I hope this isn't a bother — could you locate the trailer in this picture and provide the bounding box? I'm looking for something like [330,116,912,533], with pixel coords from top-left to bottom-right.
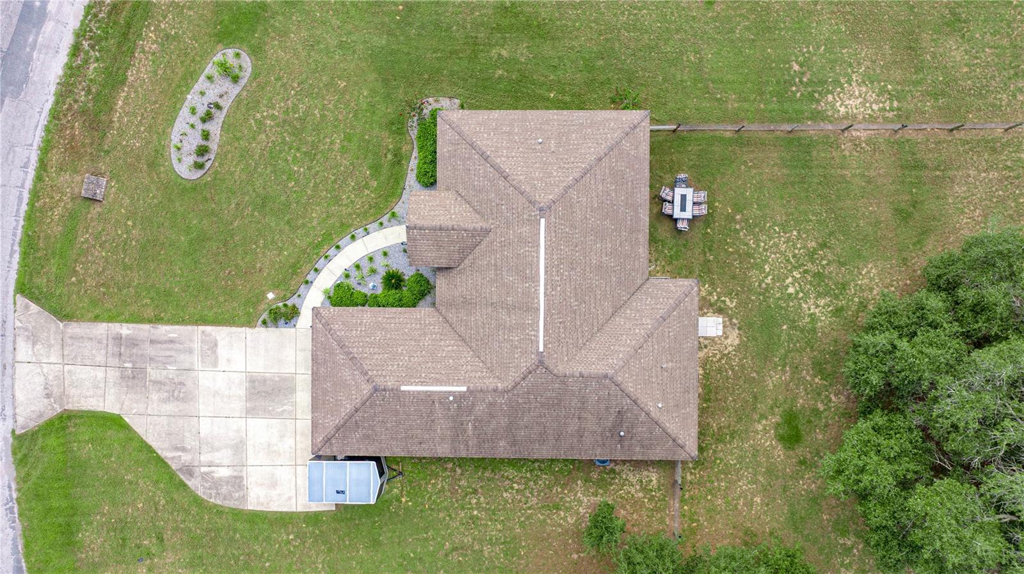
[307,455,404,504]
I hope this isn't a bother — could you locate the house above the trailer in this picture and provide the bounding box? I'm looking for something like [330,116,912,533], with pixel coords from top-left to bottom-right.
[311,109,699,461]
